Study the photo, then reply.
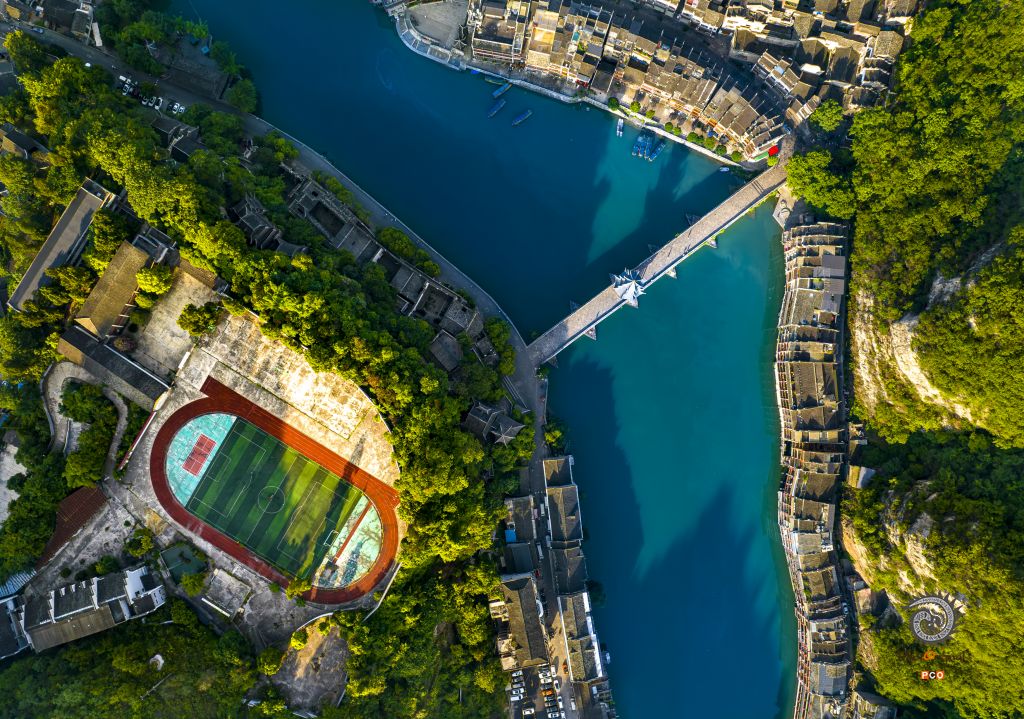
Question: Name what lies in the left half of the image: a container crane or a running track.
running track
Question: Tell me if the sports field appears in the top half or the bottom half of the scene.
bottom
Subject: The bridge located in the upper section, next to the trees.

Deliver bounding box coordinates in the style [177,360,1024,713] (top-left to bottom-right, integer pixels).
[528,161,796,368]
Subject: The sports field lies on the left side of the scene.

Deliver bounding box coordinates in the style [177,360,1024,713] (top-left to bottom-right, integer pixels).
[147,378,402,604]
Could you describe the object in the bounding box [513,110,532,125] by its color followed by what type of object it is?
blue boat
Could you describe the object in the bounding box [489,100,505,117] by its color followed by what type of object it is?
blue boat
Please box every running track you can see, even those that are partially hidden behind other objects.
[147,398,402,604]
